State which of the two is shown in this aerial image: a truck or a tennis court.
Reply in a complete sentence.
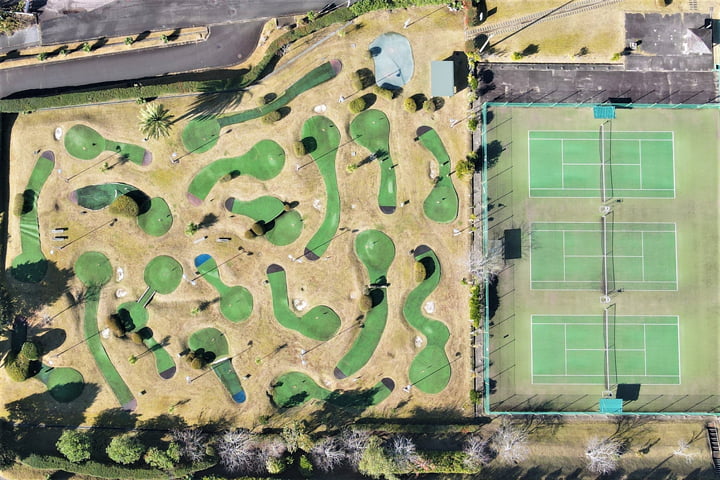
There is a tennis court in the scene.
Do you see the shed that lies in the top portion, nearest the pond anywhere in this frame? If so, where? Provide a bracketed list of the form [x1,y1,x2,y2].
[431,61,454,96]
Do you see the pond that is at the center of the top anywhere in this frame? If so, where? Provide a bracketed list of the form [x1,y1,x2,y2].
[367,31,415,89]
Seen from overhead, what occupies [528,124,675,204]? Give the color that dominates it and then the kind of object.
green tennis court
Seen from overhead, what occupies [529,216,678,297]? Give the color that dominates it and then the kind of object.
green tennis court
